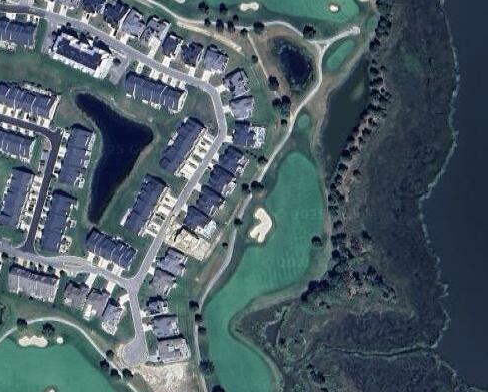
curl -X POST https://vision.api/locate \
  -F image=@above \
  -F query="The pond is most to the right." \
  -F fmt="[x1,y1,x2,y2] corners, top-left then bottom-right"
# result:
[321,59,375,185]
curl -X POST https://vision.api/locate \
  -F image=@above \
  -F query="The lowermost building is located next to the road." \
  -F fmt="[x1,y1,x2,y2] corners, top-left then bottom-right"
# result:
[144,335,191,364]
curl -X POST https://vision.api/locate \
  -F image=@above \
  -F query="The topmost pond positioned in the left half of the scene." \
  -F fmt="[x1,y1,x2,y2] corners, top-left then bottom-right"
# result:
[74,92,154,225]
